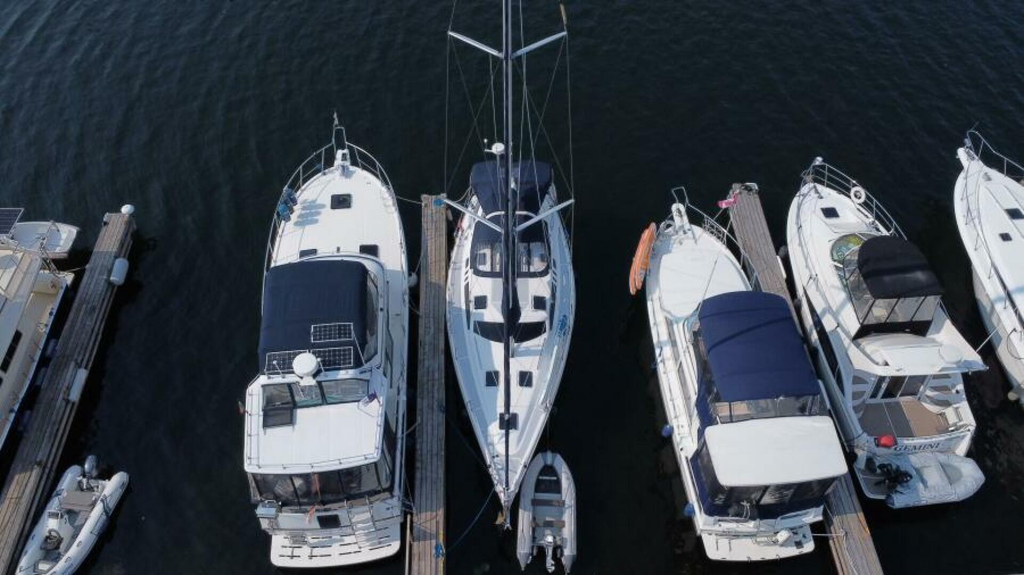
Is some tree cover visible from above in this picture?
No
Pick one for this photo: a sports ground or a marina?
marina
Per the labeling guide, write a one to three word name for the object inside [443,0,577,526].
boat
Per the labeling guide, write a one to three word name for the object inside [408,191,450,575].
pier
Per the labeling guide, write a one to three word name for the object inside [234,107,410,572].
boat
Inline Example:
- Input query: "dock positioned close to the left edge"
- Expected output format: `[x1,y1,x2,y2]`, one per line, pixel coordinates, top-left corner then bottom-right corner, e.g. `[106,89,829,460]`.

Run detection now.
[0,210,137,575]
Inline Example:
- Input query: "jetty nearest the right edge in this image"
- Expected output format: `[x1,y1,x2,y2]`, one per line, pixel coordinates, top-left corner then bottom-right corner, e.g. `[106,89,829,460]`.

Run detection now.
[726,184,885,575]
